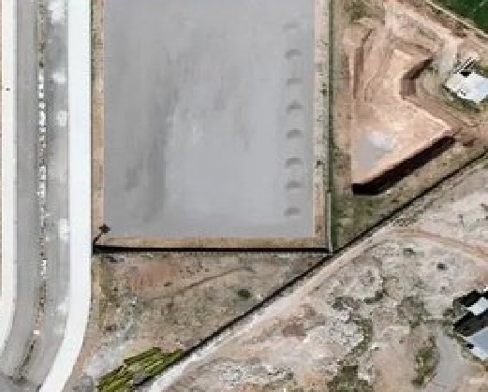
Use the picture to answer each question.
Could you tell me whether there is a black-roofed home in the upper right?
No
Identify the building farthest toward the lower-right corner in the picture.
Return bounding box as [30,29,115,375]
[454,324,488,362]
